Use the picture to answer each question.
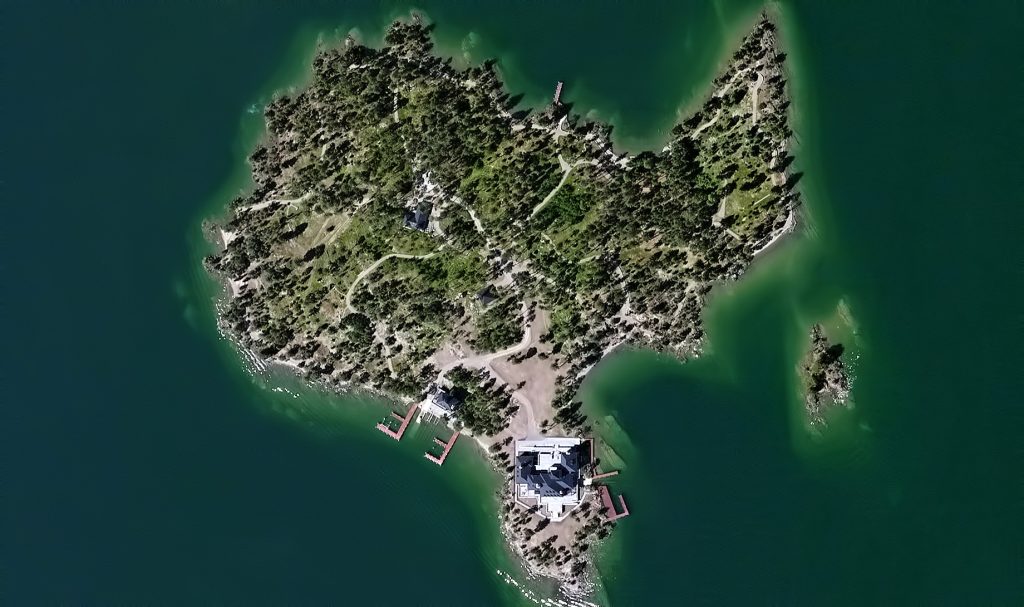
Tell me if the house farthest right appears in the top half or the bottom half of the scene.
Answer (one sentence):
It is in the bottom half that the house farthest right appears.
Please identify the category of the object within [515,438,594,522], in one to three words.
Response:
house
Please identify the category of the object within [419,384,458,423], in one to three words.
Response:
building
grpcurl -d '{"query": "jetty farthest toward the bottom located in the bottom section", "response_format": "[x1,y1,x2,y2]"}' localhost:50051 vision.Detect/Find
[599,486,630,520]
